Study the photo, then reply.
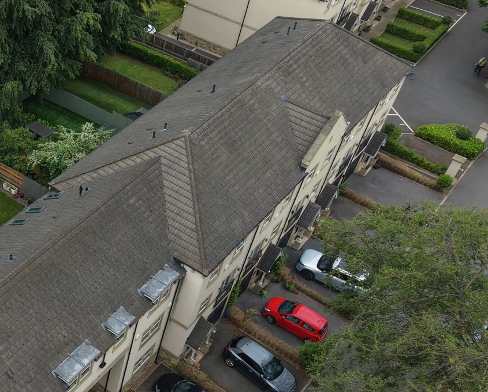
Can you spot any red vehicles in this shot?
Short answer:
Yes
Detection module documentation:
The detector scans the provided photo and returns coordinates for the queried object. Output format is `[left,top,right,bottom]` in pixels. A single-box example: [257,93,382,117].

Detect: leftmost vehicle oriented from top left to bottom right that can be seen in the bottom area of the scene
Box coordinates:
[216,337,292,392]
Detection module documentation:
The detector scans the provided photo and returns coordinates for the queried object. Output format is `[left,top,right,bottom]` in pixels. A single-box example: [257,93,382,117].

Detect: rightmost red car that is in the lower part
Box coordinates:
[259,297,330,344]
